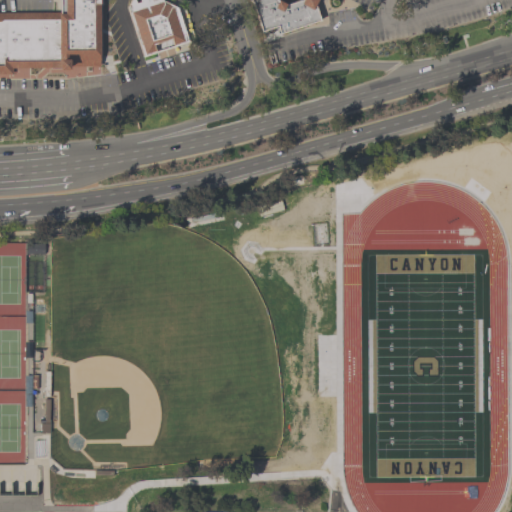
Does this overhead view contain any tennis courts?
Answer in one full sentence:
Yes, a tennis court appears in the view.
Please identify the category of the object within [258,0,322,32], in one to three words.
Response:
building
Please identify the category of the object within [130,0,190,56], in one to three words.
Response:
building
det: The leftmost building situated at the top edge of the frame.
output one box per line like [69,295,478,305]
[0,0,102,71]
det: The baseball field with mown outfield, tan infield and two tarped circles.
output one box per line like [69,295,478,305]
[52,224,283,469]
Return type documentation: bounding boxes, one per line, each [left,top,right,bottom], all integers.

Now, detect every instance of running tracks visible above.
[344,178,510,512]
